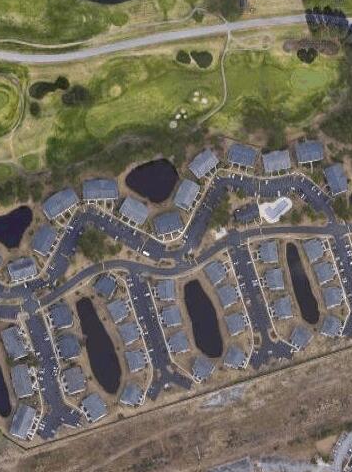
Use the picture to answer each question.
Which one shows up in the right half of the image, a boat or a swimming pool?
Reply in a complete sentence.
There is a swimming pool in the right half of the image.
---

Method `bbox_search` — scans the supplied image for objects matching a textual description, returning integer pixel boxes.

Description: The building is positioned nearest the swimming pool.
[235,204,260,223]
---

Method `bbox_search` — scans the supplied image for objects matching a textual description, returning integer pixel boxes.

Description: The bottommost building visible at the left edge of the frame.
[8,404,39,442]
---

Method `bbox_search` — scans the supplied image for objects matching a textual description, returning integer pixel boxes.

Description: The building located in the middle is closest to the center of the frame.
[154,211,184,241]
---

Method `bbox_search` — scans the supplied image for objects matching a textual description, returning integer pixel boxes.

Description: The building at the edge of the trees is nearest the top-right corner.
[295,141,325,175]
